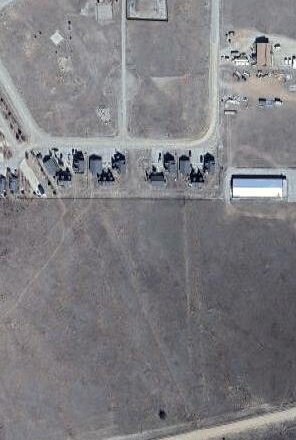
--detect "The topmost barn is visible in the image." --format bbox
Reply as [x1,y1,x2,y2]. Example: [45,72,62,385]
[257,42,274,66]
